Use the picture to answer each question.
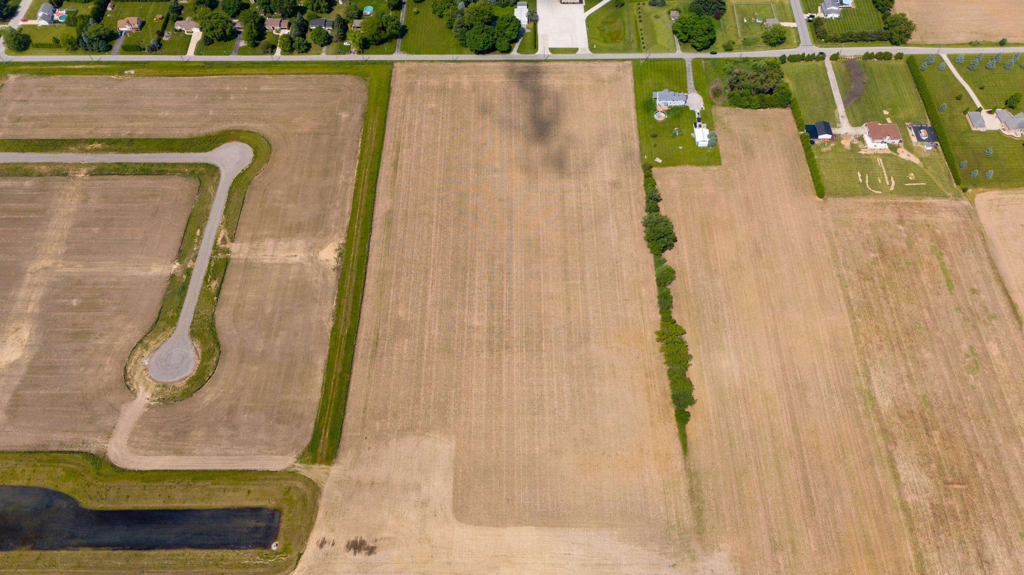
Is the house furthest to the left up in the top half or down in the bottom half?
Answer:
top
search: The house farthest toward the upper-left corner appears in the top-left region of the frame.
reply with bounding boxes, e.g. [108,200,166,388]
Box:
[37,2,57,25]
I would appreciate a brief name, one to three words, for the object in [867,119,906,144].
house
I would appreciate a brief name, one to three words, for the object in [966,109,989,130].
building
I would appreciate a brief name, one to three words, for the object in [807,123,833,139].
building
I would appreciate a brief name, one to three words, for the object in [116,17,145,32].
house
